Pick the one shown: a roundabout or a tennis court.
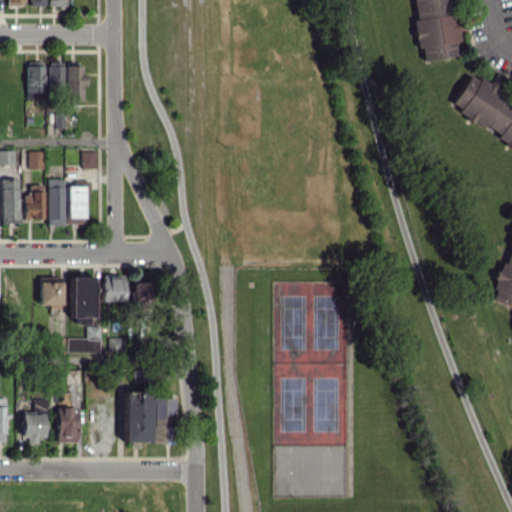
tennis court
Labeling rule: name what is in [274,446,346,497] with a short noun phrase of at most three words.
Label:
sports court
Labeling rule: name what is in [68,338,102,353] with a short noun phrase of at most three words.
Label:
building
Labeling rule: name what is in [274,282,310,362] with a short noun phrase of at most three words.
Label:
tennis court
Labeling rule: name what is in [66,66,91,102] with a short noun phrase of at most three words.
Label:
house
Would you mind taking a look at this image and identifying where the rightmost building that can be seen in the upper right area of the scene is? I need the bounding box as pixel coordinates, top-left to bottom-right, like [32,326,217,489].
[454,76,512,146]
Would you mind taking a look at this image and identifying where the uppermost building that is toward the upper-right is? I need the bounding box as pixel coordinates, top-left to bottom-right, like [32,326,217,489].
[416,0,464,62]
